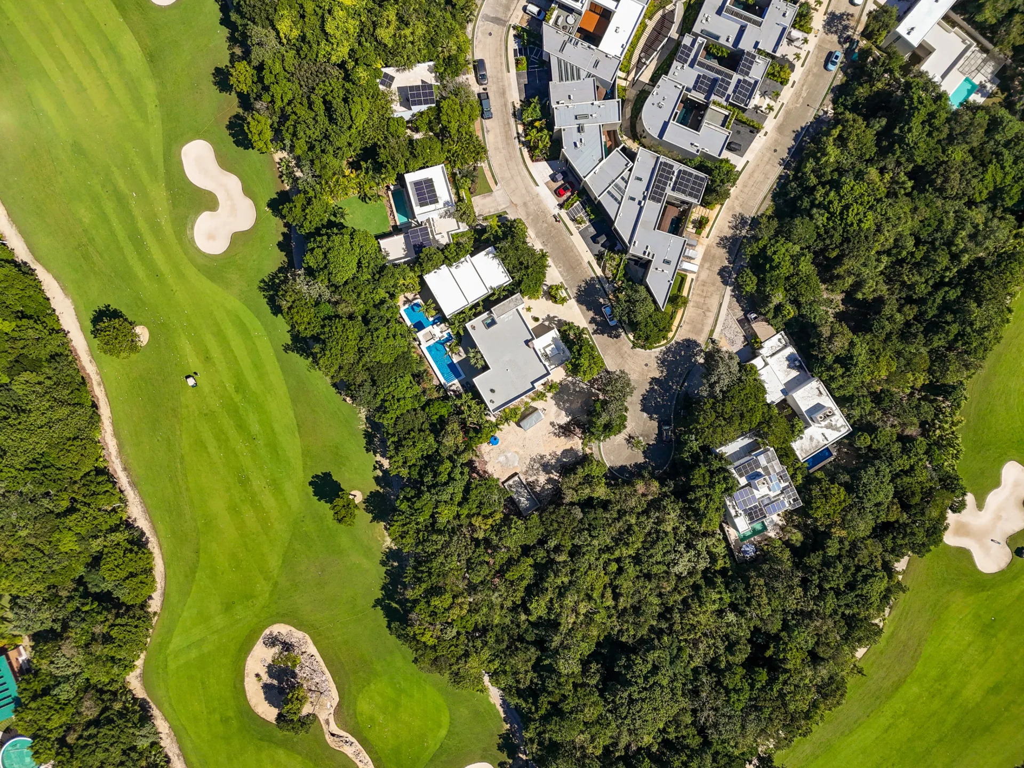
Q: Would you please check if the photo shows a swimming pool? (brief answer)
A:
Yes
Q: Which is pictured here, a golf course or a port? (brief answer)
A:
golf course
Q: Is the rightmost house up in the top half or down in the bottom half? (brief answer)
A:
top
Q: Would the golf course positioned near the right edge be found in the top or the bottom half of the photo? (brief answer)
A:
bottom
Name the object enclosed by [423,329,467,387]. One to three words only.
swimming pool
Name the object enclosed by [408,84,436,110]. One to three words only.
solar array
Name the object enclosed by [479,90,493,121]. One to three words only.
vehicle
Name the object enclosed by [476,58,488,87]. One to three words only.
vehicle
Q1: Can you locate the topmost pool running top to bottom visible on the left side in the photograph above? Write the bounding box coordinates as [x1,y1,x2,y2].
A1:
[390,188,410,225]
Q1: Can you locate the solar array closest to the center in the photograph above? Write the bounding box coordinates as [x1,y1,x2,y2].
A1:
[409,226,432,254]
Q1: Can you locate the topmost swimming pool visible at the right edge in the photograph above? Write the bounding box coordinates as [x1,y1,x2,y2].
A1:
[947,75,982,110]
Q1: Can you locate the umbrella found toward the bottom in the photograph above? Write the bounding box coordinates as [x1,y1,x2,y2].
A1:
[741,542,755,556]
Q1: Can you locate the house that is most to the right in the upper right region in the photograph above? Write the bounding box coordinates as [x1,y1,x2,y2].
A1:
[879,0,976,88]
